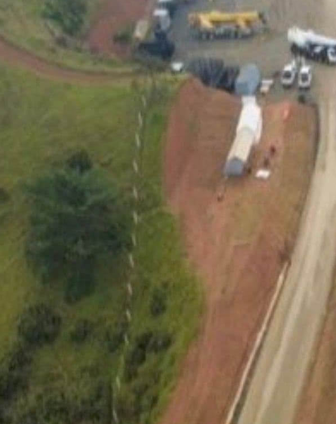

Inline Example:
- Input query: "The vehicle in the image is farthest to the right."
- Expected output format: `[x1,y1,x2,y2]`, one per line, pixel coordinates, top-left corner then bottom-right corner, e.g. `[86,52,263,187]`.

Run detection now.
[294,66,315,88]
